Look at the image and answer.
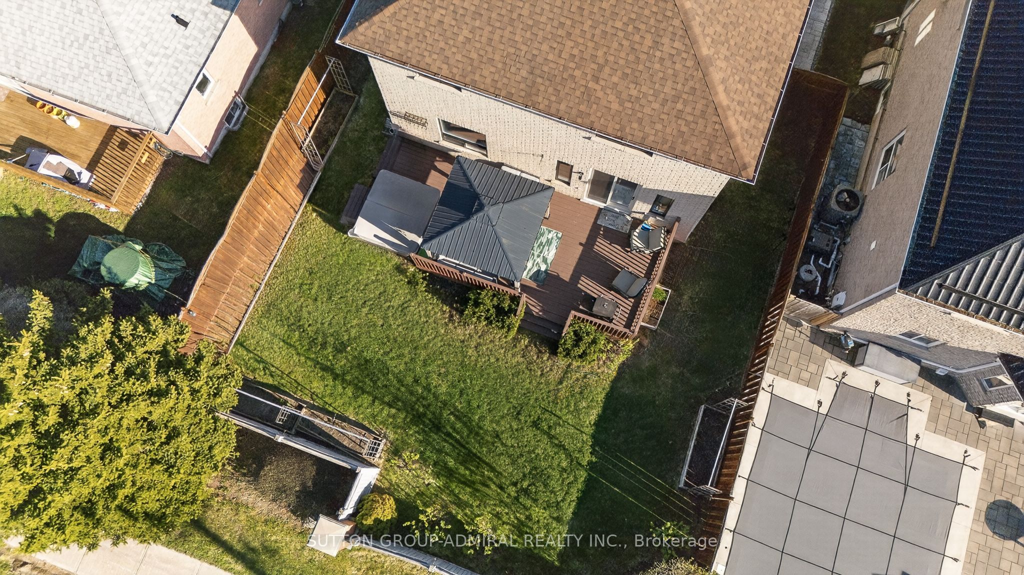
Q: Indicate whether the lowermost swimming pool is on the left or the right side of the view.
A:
right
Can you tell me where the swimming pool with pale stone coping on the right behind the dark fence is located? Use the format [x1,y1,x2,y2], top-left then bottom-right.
[702,359,986,575]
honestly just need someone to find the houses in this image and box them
[0,0,299,163]
[333,0,811,243]
[806,0,1024,438]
